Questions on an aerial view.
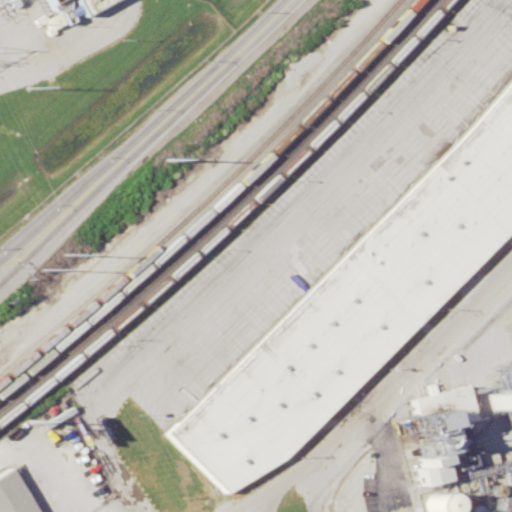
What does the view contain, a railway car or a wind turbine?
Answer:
railway car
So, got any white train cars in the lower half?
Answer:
Yes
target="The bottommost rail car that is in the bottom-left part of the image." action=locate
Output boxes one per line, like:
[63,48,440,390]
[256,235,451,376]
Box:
[0,402,31,432]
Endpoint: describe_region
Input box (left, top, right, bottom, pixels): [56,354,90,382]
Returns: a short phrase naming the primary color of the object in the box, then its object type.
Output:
white rail car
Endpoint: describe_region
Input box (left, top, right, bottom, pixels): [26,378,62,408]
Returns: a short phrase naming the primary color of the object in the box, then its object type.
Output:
white rail car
